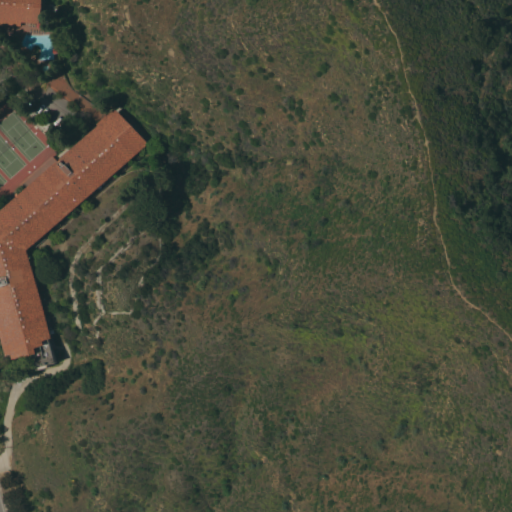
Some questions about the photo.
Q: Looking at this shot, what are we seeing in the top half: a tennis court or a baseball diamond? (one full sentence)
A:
The feature located in the top half is a tennis court.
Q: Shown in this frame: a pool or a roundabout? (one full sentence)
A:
It is a pool that can be seen here.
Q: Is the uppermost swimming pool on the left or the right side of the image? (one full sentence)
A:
The uppermost swimming pool appears in the left half of the scene.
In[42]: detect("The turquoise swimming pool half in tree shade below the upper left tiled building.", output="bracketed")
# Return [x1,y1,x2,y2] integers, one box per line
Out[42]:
[22,34,55,62]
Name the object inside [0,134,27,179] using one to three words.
tennis court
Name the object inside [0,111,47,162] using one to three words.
tennis court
